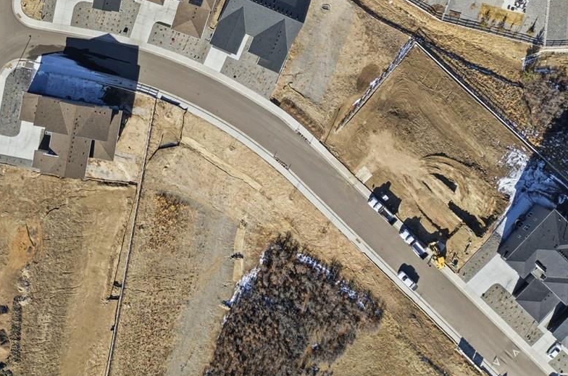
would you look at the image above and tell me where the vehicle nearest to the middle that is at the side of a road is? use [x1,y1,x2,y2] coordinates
[369,199,402,230]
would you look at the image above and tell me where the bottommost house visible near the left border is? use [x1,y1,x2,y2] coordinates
[19,89,120,178]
